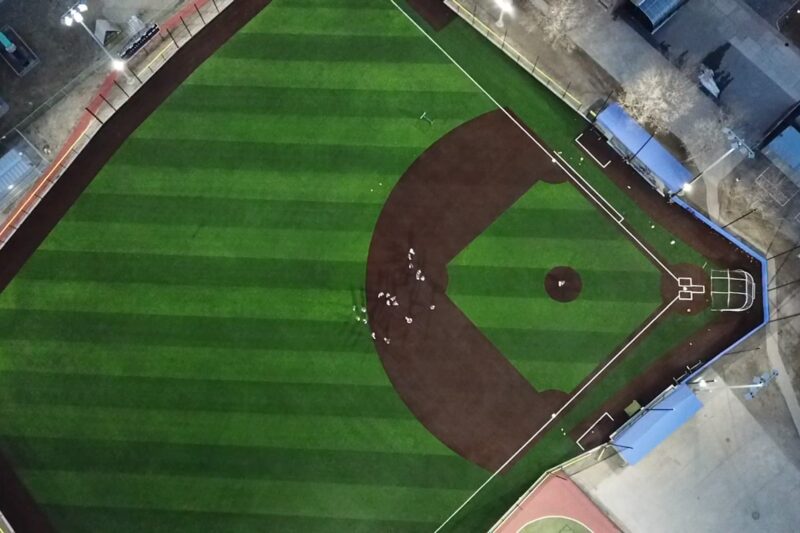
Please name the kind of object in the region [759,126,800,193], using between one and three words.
building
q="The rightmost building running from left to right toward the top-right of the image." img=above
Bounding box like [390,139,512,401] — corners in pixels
[605,0,698,44]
